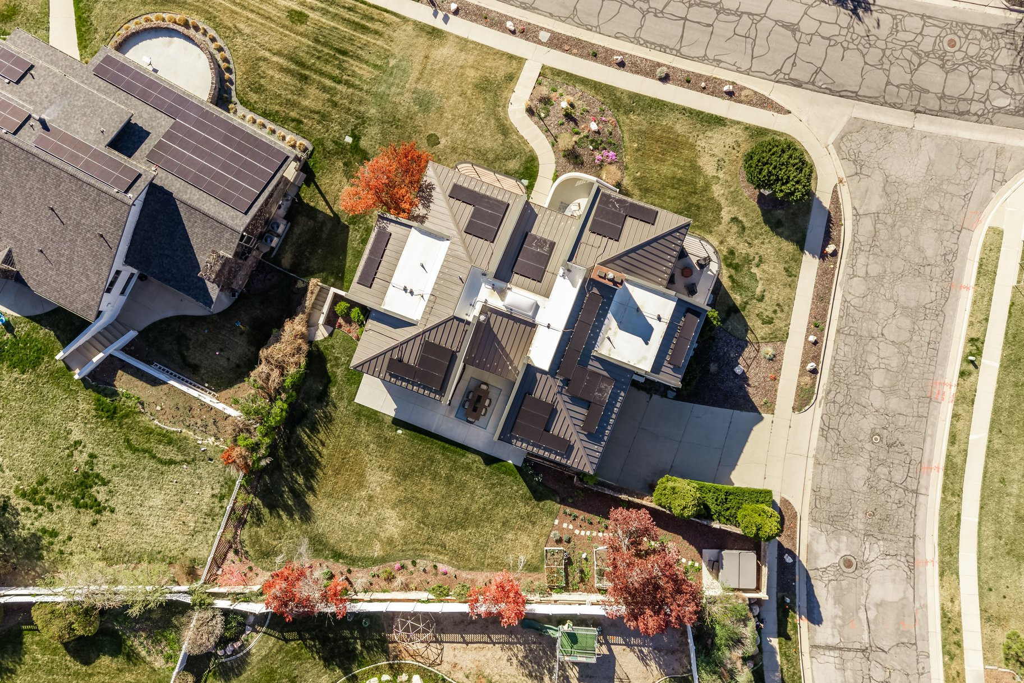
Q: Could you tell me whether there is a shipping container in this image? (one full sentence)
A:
No, the photo shows no shipping container.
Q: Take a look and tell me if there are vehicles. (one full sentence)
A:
No, no vehicle is visible in the view.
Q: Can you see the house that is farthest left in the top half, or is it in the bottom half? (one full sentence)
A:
The house that is farthest left sits in the top half of the picture.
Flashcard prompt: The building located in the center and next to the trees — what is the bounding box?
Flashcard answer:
[345,162,712,475]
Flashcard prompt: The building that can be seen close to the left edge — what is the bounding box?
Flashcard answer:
[0,19,312,328]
